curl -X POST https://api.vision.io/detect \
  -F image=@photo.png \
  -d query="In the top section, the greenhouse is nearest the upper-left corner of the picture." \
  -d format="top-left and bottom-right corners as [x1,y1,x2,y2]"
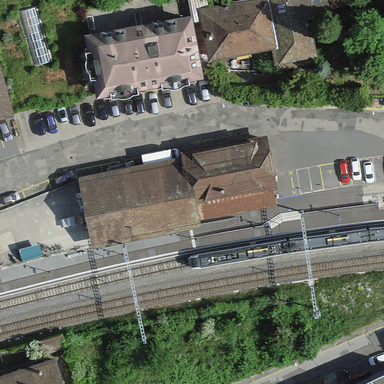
[20,6,53,66]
